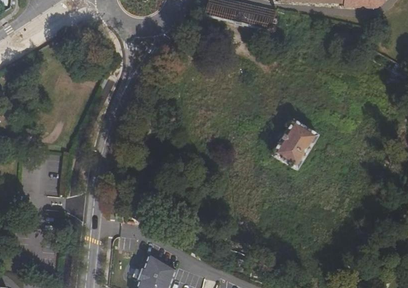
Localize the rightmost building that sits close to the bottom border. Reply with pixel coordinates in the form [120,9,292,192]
[137,256,178,288]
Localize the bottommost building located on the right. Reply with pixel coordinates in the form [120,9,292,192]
[272,121,320,170]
